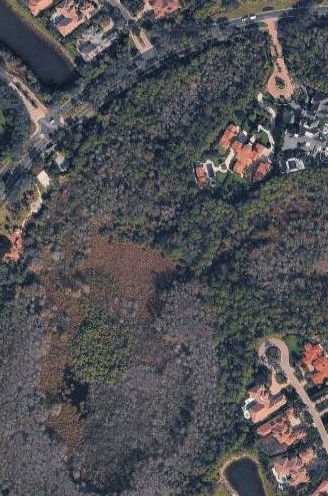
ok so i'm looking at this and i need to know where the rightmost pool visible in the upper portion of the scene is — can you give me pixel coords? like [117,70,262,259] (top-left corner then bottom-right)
[286,158,302,171]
